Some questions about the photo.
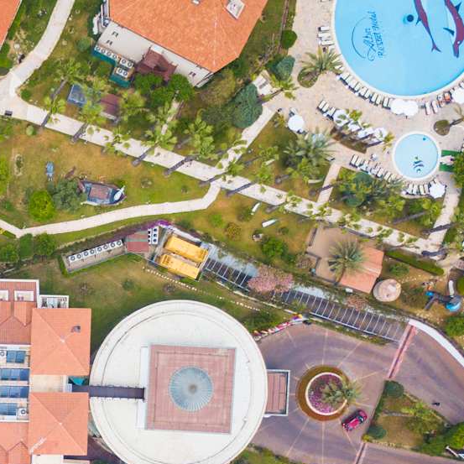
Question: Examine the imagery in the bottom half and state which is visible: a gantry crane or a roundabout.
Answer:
roundabout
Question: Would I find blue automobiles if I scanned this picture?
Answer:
No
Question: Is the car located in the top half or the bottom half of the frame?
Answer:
bottom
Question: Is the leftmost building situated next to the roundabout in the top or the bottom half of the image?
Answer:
bottom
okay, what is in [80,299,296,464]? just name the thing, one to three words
building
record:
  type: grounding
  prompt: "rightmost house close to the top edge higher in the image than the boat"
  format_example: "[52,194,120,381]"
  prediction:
[100,0,267,84]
